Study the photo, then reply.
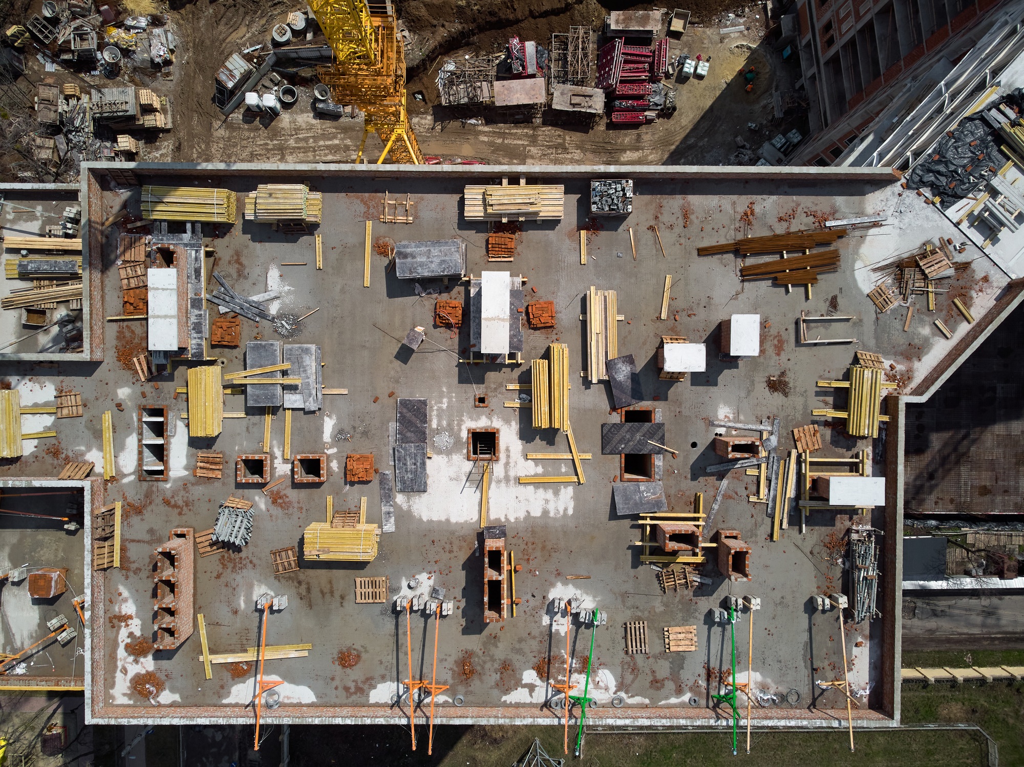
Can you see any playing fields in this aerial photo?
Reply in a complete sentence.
No, no playing field is visible in the view.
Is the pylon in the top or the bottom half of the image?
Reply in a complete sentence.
The pylon sits in the bottom half of the picture.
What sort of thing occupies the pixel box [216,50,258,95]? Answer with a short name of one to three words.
shed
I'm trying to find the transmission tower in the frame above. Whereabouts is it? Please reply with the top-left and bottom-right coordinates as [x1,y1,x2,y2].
[512,738,564,767]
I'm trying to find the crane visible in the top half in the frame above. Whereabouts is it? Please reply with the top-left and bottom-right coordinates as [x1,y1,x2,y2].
[306,0,424,163]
